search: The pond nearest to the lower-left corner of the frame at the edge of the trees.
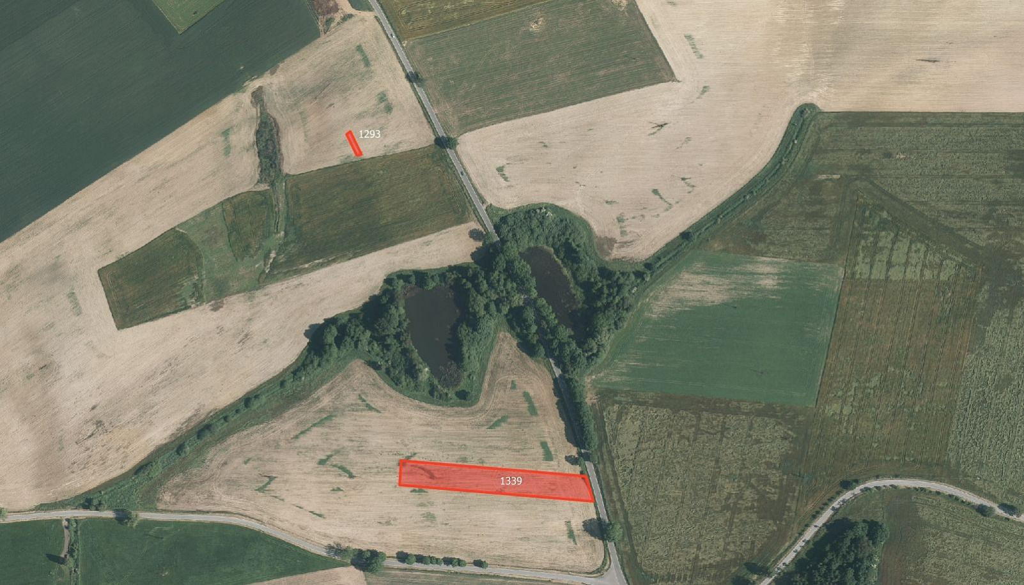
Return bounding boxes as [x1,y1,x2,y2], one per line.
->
[404,286,471,390]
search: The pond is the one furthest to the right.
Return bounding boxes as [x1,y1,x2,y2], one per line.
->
[522,244,582,342]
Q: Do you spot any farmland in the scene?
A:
Yes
